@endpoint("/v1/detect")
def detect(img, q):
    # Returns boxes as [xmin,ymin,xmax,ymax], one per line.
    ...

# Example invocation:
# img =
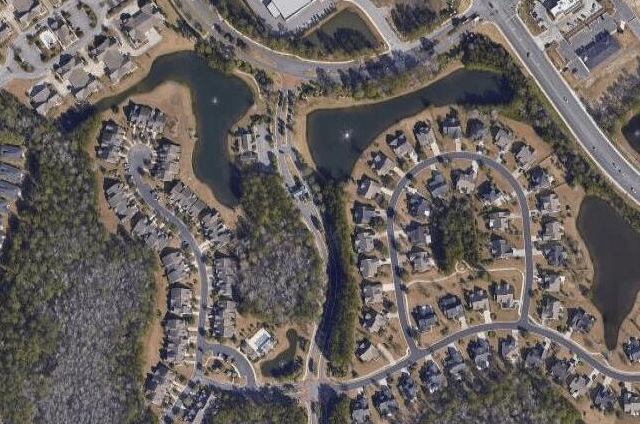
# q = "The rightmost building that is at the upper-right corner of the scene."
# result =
[577,32,619,69]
